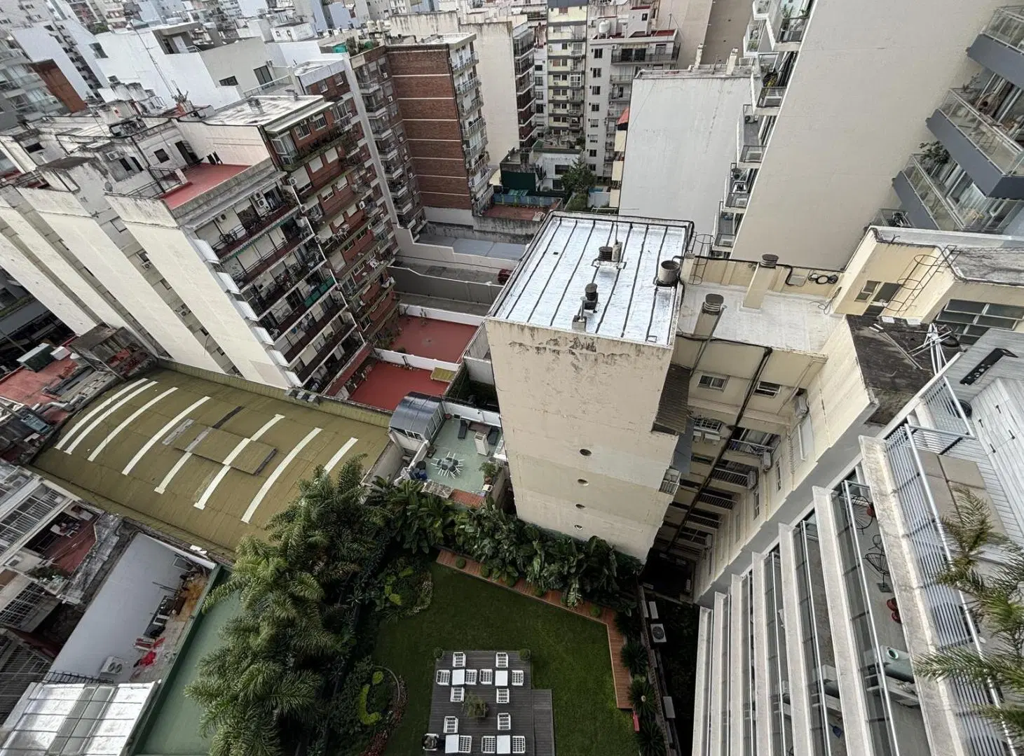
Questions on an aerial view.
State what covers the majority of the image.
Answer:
buildings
